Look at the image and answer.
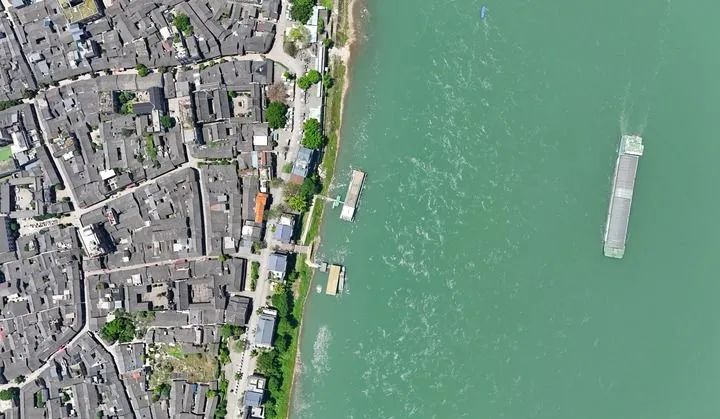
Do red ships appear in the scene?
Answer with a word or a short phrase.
No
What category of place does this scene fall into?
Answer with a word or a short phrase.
residential area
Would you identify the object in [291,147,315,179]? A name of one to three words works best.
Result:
house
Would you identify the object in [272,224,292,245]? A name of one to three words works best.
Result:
house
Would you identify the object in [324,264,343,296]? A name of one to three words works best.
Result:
pier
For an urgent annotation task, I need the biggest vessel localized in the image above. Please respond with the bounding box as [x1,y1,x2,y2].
[607,134,647,259]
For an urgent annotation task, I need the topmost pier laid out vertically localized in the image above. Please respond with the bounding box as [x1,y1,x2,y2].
[338,169,365,224]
